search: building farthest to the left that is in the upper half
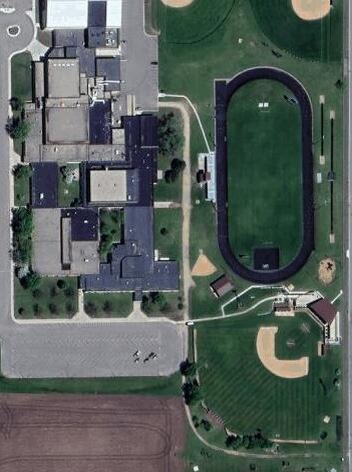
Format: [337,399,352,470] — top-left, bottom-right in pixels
[24,0,179,302]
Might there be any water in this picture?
No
